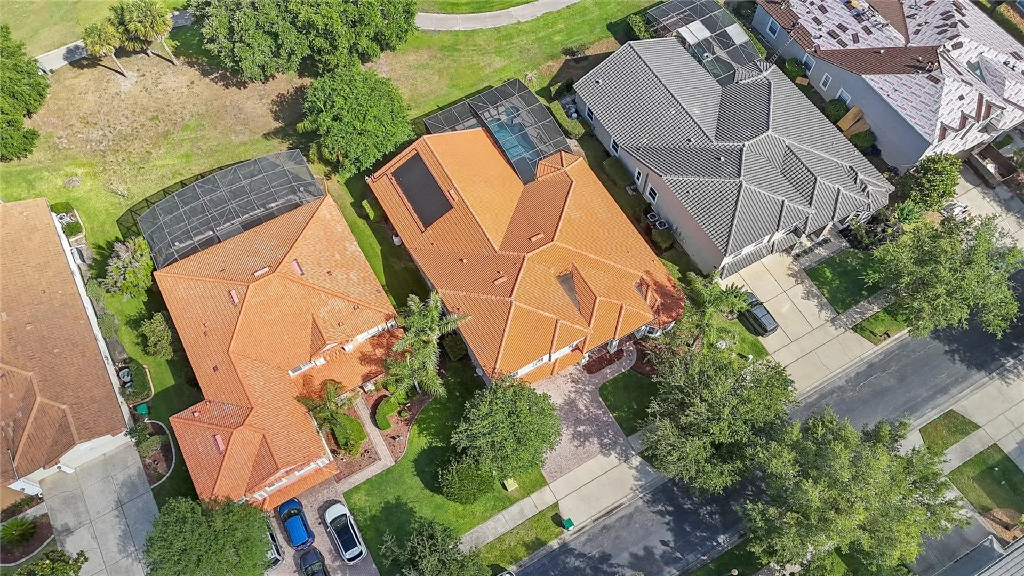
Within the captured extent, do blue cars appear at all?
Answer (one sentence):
Yes, you can see a blue car in this photo.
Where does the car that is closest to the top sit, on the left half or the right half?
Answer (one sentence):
You can find the car that is closest to the top on the right side of the picture.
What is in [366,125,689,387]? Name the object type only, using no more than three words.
house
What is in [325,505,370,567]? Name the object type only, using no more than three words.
car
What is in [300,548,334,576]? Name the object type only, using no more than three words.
car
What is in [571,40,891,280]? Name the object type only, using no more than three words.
house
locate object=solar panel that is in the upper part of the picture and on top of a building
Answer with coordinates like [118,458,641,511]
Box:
[391,153,453,227]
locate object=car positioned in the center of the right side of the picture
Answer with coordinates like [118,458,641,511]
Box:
[734,292,780,340]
